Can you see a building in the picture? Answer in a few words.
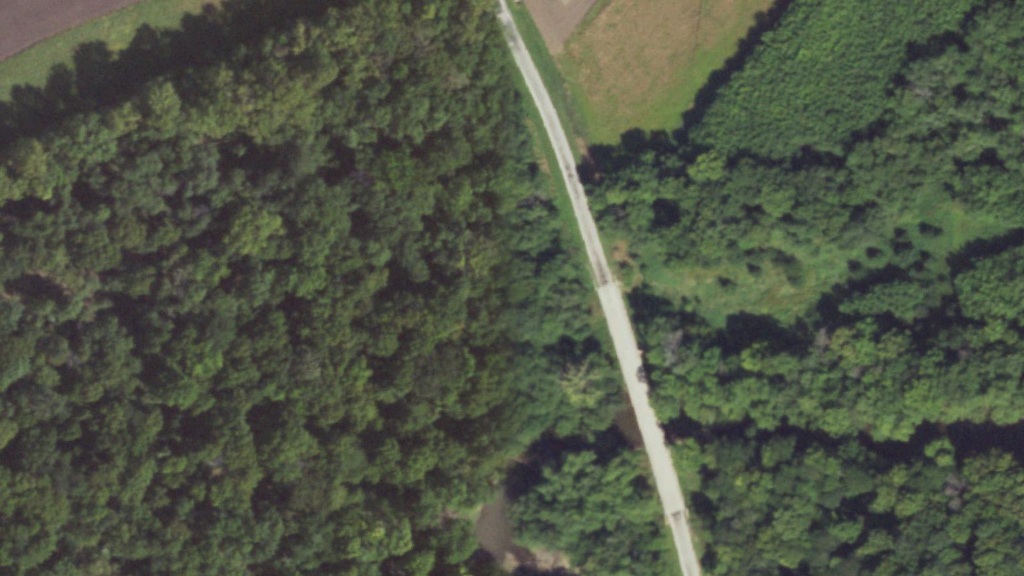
No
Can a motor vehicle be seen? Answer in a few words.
No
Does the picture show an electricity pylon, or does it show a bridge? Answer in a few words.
bridge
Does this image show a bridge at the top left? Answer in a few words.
No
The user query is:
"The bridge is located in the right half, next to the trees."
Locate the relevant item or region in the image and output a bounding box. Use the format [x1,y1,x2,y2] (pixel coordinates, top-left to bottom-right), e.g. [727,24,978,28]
[596,279,688,523]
